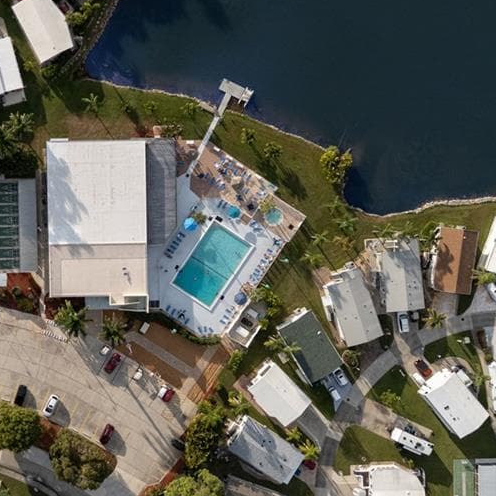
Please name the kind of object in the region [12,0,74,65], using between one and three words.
house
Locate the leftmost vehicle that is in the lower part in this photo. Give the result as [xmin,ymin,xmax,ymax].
[14,382,28,403]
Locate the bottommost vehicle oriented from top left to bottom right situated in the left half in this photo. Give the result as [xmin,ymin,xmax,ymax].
[167,436,186,453]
